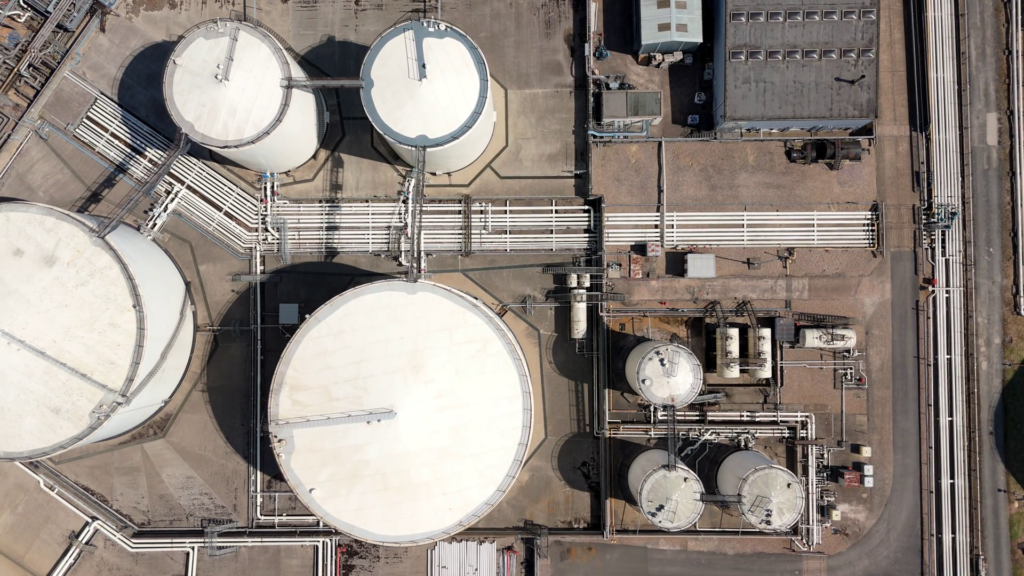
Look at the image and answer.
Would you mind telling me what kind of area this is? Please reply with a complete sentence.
What you see here is an industrial area.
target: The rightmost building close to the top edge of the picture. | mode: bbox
[712,0,879,131]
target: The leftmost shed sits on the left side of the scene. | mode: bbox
[272,304,297,325]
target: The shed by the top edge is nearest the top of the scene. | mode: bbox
[634,0,703,52]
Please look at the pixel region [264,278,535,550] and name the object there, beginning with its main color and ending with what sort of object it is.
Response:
white storage tank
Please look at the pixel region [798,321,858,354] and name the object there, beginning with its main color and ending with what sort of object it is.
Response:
white storage tank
